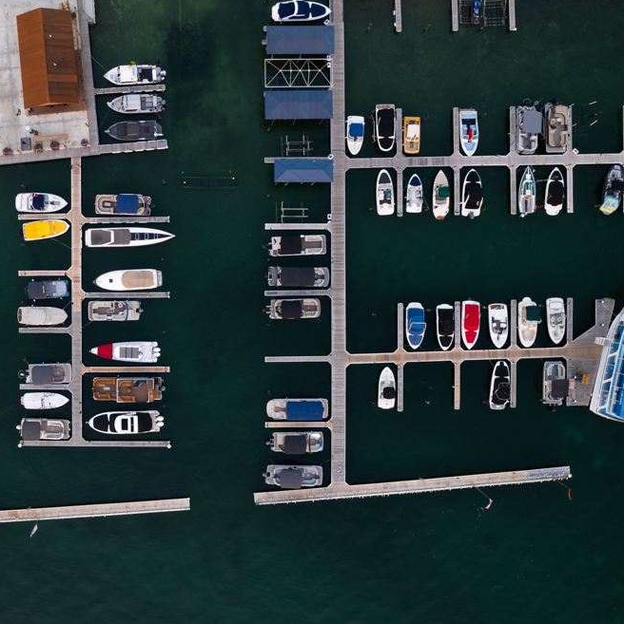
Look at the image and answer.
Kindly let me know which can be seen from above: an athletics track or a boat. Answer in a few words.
boat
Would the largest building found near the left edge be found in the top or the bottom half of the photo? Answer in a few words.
top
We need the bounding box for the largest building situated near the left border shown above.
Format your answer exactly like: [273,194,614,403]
[17,5,86,116]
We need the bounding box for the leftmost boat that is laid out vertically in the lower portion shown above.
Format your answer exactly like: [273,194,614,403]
[375,367,395,409]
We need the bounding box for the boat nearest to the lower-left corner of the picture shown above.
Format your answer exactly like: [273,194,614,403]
[15,418,70,440]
